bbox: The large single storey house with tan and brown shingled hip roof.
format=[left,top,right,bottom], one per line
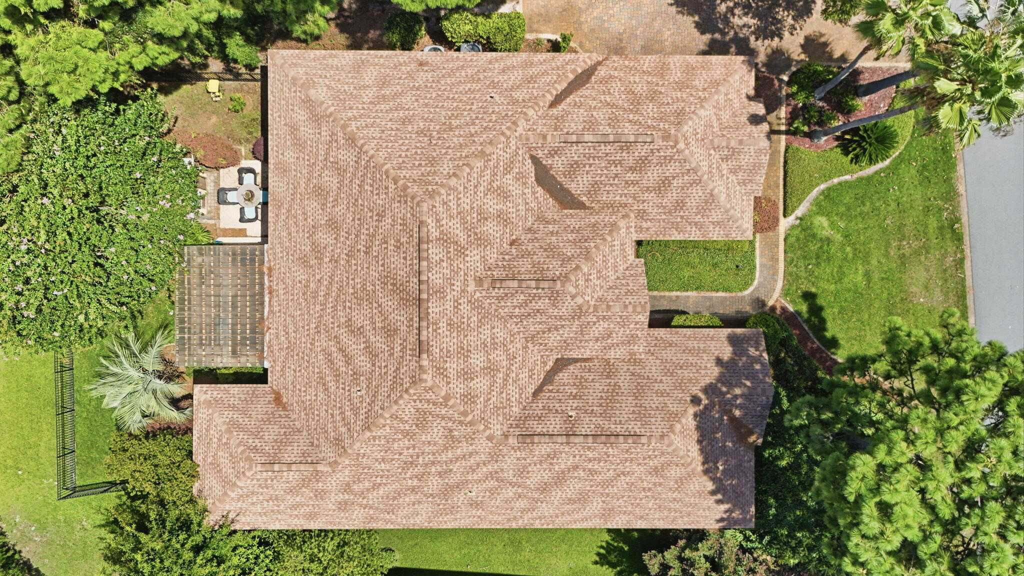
[192,49,775,530]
